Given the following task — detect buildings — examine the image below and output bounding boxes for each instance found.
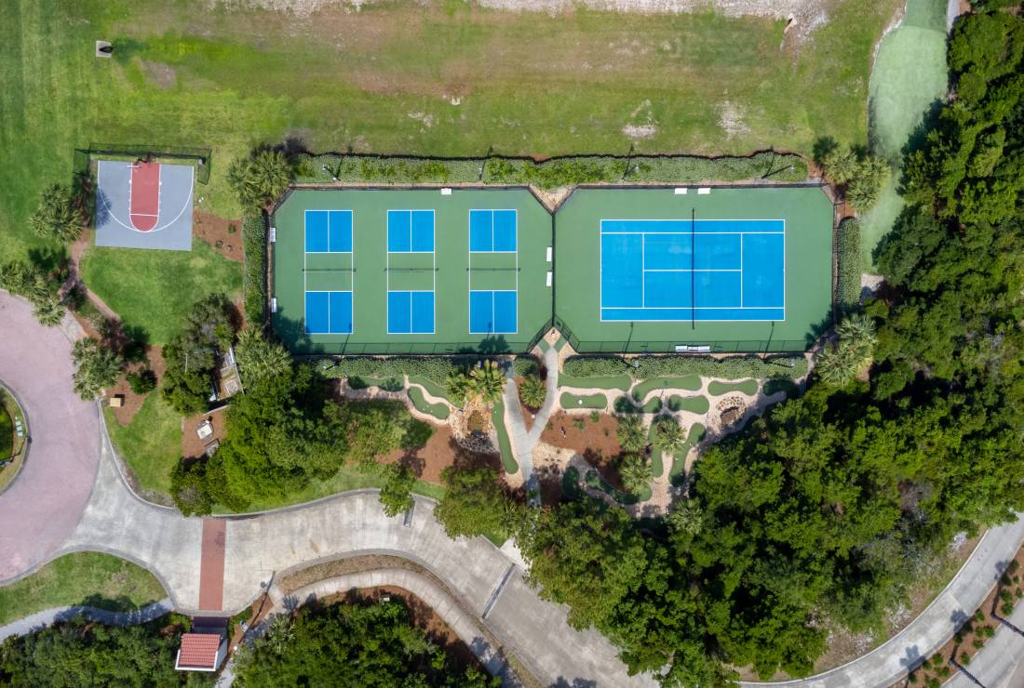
[178,617,229,672]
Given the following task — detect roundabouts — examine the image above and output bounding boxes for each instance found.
[0,290,101,582]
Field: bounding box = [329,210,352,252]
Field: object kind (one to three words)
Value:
sports court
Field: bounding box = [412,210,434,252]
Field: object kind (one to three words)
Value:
sports court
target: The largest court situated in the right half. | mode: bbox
[601,219,785,321]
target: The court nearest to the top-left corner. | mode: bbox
[95,160,194,251]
